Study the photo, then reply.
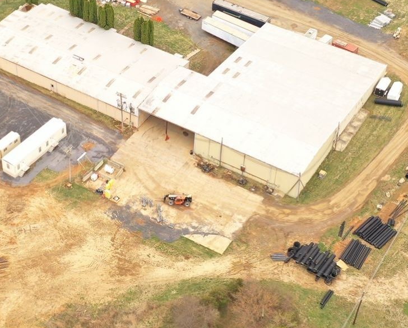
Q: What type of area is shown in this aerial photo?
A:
industrial area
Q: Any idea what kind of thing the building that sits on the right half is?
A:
warehouse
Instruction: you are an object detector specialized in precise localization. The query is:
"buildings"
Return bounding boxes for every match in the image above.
[0,0,203,126]
[191,21,390,197]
